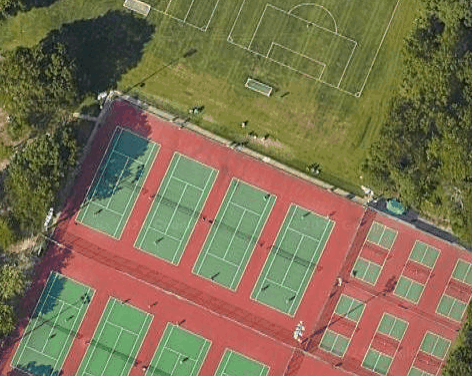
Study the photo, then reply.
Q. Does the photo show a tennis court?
Yes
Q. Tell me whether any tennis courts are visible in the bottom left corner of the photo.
Yes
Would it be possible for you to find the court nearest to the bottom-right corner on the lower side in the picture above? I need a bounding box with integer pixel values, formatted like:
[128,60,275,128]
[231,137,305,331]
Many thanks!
[408,332,451,376]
